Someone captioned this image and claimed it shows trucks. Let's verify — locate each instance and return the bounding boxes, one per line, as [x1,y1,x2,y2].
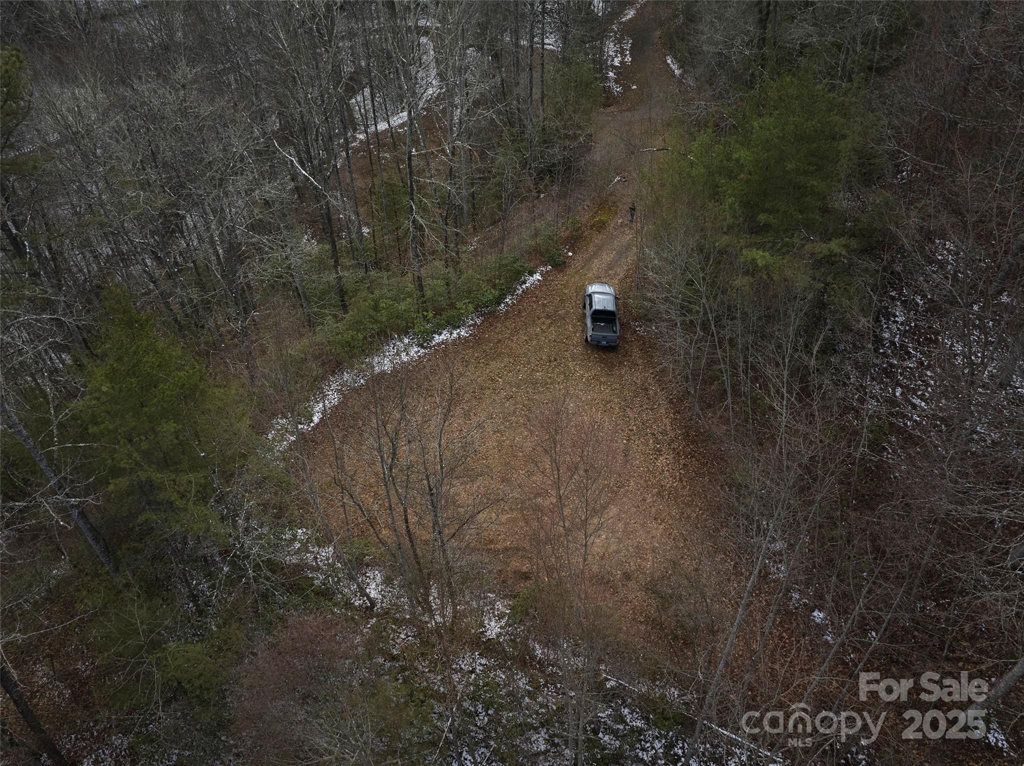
[585,281,623,347]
